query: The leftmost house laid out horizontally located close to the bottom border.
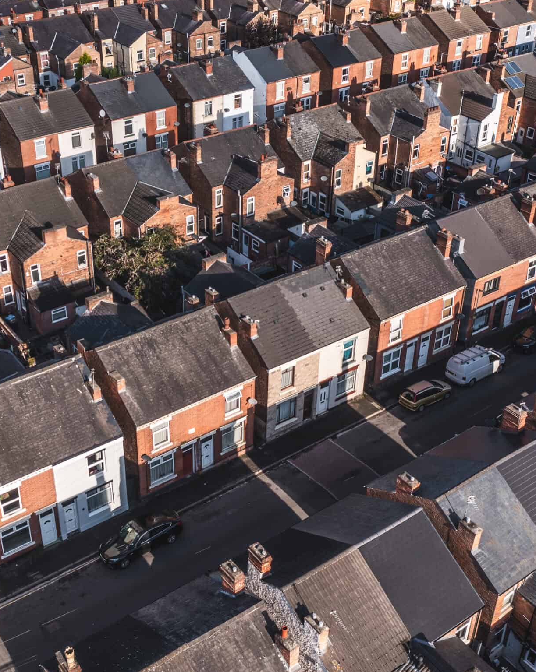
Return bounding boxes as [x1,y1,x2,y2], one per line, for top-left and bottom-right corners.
[38,560,304,672]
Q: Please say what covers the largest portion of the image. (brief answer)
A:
buildings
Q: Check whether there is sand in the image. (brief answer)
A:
No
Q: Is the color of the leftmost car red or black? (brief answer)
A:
black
